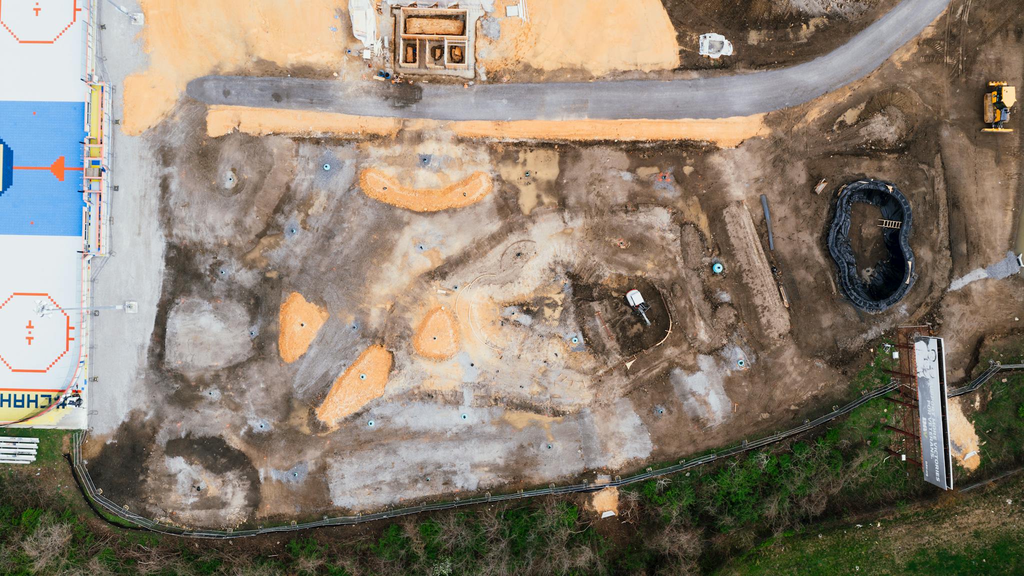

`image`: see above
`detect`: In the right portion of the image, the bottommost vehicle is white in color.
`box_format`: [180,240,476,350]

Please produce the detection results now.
[623,288,650,326]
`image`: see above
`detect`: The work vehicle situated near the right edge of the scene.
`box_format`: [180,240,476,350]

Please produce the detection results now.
[976,82,1019,132]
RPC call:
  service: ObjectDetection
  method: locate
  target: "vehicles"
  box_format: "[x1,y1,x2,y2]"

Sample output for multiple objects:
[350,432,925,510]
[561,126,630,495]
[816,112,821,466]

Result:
[976,82,1019,132]
[623,288,650,326]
